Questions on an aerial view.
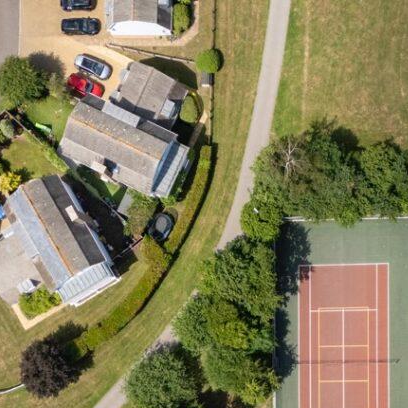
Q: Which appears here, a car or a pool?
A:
car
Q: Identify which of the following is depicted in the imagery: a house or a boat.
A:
house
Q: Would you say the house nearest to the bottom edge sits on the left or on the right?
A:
left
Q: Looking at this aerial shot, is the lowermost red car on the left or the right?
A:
left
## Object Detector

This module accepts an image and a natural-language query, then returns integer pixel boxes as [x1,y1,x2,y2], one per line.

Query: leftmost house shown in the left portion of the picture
[0,173,123,310]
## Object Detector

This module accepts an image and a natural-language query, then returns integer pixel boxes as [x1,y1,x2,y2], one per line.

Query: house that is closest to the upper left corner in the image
[106,0,172,37]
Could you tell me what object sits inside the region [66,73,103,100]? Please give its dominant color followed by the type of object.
red car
